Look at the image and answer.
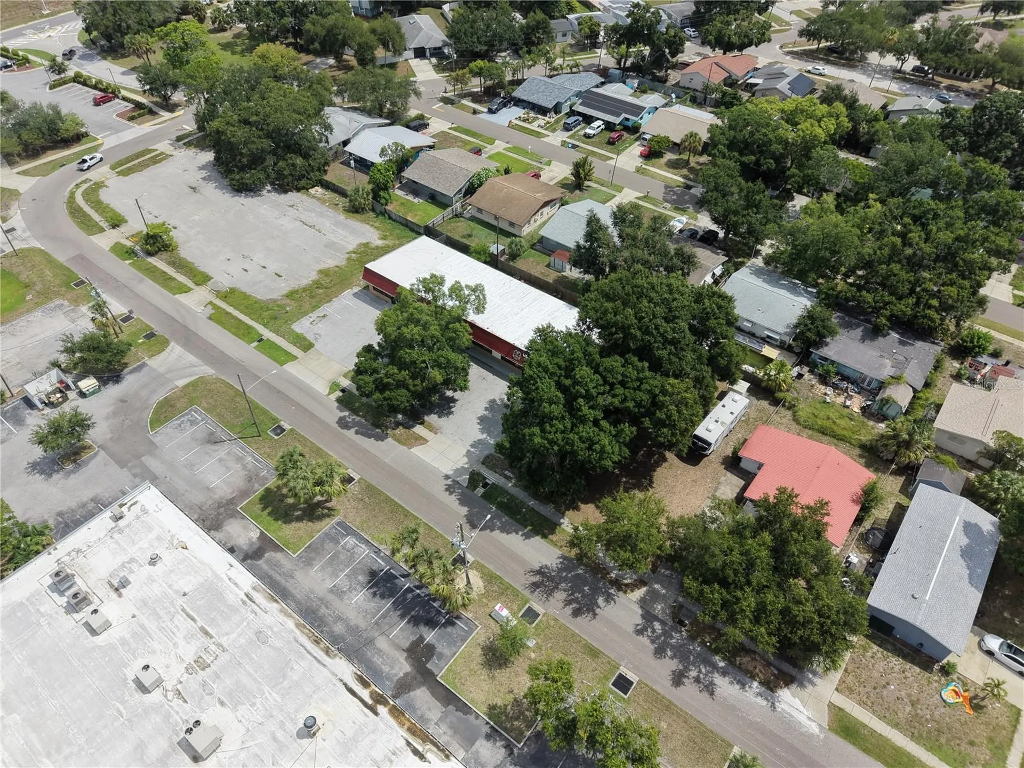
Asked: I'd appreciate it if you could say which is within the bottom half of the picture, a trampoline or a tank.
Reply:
trampoline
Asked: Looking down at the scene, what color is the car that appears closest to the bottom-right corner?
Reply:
white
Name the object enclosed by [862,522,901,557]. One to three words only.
trampoline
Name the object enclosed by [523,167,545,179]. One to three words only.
vehicle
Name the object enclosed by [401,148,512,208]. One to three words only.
house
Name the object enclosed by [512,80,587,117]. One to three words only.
house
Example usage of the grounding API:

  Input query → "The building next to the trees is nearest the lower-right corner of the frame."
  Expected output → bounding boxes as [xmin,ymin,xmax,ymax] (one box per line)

[864,485,1010,661]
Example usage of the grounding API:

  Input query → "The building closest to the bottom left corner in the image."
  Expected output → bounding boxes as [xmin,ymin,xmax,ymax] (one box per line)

[0,480,464,768]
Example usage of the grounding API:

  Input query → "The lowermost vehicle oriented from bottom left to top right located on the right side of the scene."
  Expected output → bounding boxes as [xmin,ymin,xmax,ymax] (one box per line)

[691,392,749,458]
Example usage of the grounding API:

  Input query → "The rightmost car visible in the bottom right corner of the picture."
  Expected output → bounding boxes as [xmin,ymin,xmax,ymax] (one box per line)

[983,635,1024,673]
